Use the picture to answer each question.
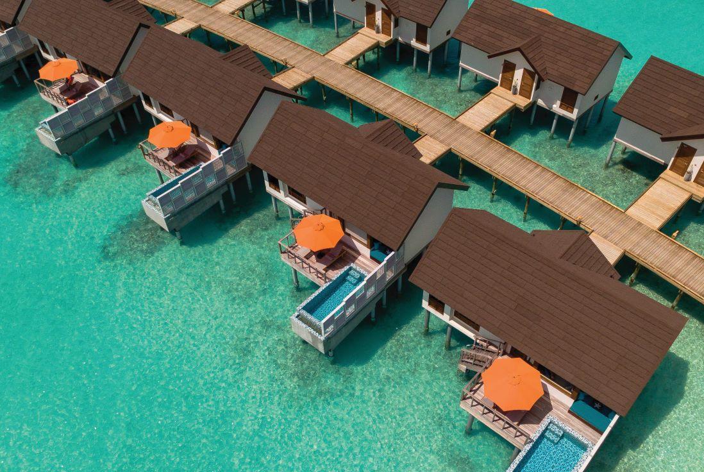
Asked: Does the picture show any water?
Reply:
Yes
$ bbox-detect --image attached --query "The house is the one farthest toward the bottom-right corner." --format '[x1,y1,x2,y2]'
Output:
[409,207,688,472]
